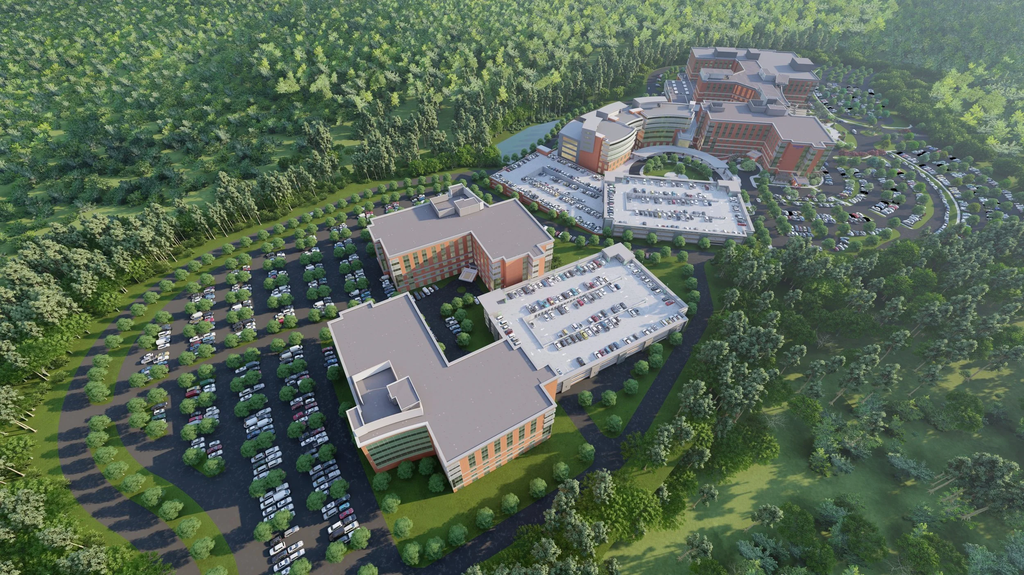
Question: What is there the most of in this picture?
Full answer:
For the most part, this view shows trees.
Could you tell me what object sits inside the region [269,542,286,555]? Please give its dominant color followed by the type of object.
white vehicle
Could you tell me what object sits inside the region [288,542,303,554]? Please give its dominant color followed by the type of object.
white vehicle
